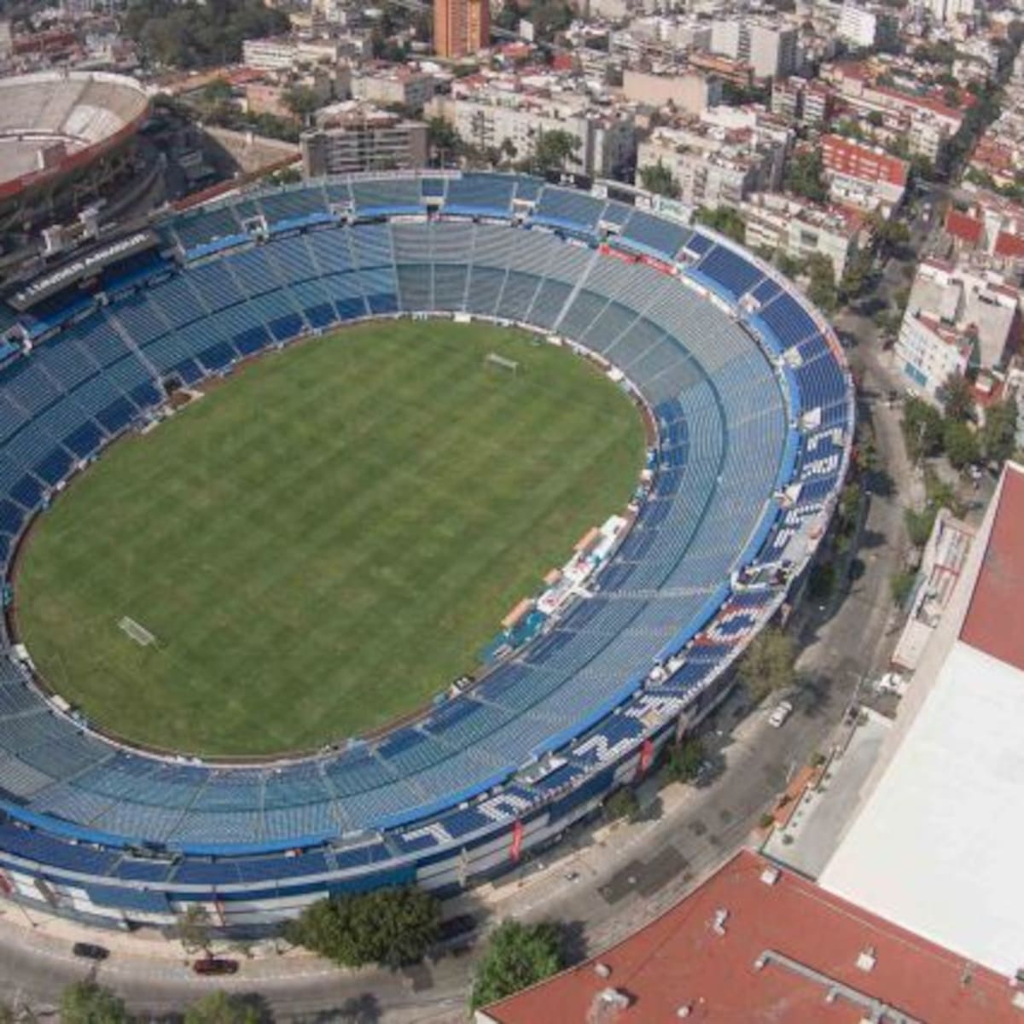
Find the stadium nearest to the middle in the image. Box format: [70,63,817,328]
[0,176,848,937]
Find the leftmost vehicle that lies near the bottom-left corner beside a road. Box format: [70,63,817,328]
[70,940,109,962]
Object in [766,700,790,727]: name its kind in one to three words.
car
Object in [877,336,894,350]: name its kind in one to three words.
car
